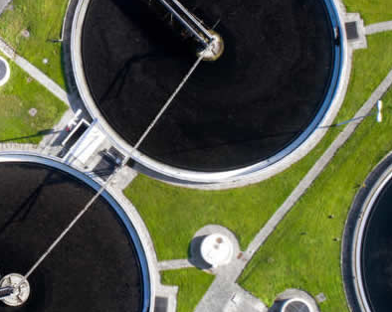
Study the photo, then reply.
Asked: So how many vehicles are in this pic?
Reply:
0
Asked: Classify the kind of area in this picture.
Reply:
industrial area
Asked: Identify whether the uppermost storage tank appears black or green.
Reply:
black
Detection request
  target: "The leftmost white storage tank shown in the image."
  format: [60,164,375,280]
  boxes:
[199,233,233,265]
